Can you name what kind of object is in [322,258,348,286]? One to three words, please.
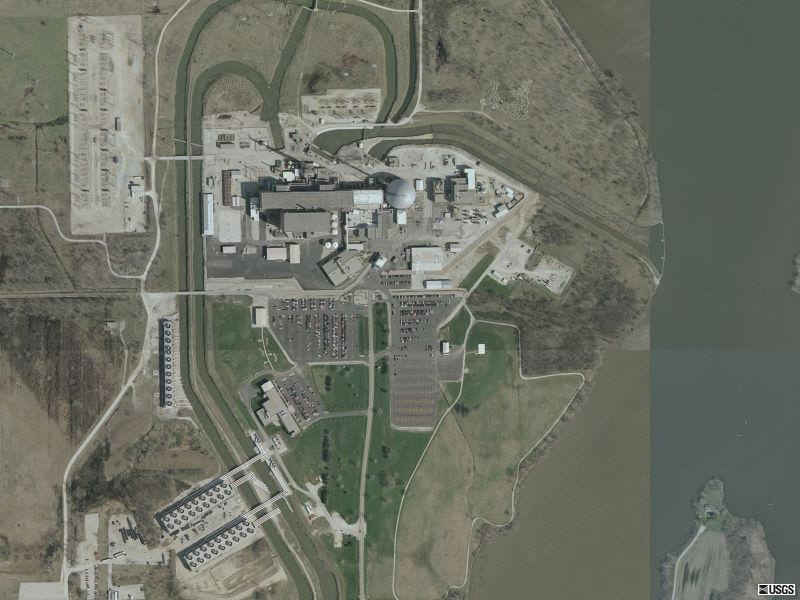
building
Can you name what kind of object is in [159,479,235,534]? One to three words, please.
cooling tower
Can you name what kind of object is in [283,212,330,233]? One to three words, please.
building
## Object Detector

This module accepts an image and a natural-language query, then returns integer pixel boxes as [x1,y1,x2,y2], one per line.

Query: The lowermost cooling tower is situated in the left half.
[182,516,258,571]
